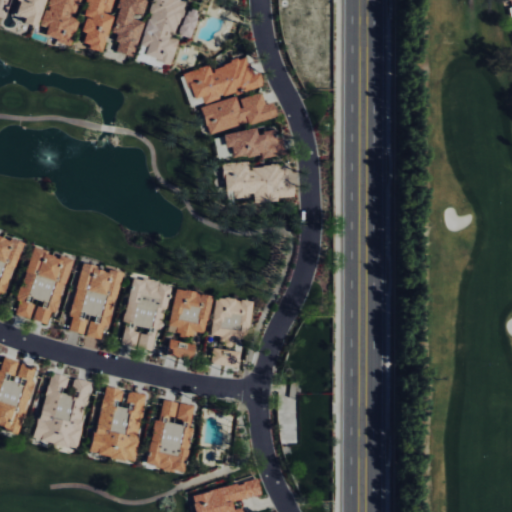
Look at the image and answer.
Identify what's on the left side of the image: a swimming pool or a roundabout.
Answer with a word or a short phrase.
swimming pool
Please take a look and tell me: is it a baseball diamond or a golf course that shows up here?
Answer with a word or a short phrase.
golf course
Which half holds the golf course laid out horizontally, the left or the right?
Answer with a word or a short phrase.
left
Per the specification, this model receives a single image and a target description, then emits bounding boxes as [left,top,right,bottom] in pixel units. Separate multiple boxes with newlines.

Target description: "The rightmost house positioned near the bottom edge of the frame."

[194,480,262,512]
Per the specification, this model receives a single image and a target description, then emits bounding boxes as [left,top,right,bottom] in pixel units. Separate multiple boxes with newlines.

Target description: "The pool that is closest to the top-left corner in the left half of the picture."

[0,10,33,35]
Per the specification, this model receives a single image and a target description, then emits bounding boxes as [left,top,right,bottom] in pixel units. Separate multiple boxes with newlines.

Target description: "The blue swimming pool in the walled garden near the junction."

[200,408,234,448]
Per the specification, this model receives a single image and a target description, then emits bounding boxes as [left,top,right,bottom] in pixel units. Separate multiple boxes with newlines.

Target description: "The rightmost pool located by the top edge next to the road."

[194,0,248,52]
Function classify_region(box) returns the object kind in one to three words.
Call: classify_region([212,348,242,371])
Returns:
house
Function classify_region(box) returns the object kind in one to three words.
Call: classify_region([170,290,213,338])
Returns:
house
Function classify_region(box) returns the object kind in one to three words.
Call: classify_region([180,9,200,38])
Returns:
building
